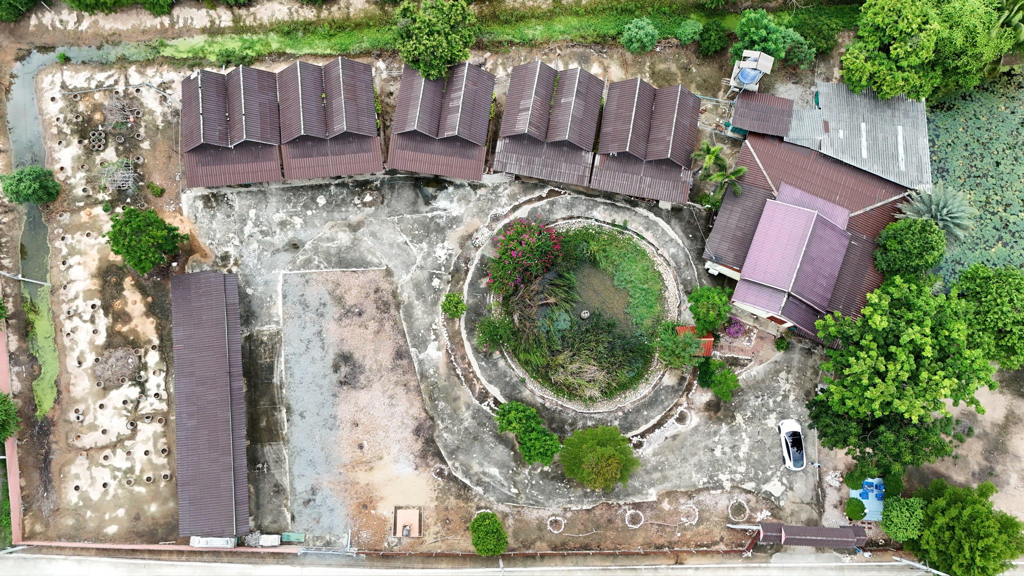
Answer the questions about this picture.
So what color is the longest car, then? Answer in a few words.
white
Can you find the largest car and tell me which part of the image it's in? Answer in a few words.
bottom right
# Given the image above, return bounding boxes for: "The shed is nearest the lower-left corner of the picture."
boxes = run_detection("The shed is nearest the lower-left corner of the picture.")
[170,271,251,538]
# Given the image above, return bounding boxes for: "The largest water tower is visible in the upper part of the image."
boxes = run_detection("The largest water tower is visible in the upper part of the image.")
[718,50,774,104]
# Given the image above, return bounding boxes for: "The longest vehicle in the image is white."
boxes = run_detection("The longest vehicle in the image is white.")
[774,419,805,473]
